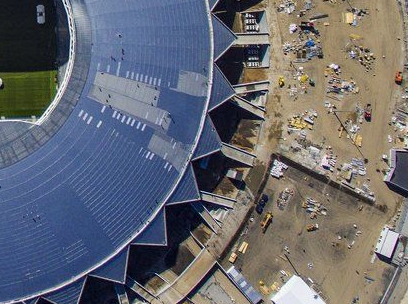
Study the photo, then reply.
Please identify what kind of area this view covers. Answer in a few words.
sports ground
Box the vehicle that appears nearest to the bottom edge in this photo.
[255,278,271,298]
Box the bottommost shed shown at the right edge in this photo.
[371,229,398,258]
